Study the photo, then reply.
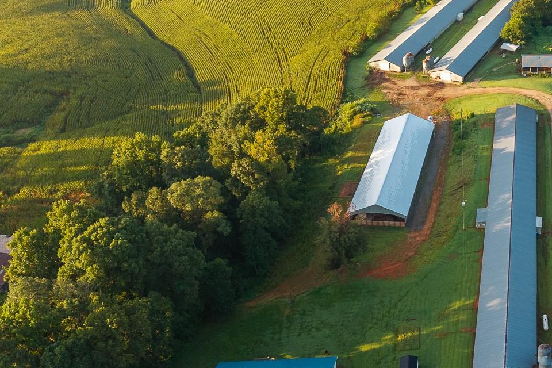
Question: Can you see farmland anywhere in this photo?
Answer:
Yes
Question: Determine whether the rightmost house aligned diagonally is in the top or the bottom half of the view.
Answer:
top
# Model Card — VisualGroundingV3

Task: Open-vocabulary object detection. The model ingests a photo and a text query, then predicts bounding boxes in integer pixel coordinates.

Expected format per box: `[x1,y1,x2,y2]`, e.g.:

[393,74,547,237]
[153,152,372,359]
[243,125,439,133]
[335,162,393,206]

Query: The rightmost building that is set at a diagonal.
[428,0,529,85]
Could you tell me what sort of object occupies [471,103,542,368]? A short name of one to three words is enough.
house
